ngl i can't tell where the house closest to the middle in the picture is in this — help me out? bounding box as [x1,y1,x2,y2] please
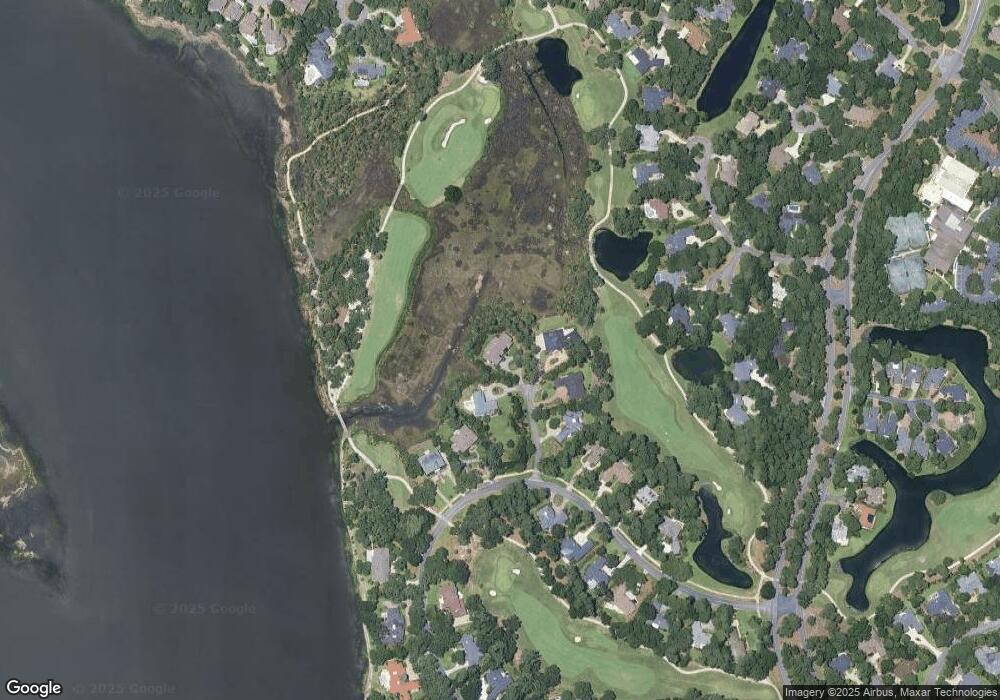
[482,331,515,367]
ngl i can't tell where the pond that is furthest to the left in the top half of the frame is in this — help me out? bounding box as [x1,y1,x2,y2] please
[535,37,582,97]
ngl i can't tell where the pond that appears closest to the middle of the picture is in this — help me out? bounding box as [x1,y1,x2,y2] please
[593,228,653,281]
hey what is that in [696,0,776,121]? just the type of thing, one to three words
pond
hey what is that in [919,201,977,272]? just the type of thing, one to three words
building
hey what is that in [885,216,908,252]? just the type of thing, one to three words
tennis court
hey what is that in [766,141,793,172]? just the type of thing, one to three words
house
